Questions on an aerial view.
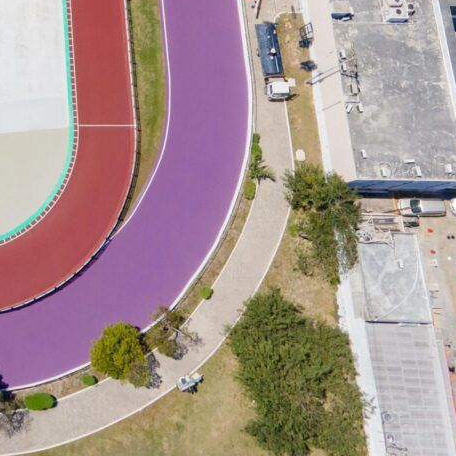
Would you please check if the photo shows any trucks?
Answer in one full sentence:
Yes, a truck is visible in the scene.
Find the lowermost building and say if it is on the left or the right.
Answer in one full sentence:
The lowermost building is on the right side of the image.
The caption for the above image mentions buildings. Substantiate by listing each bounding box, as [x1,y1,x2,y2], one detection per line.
[308,0,456,195]
[342,232,456,456]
